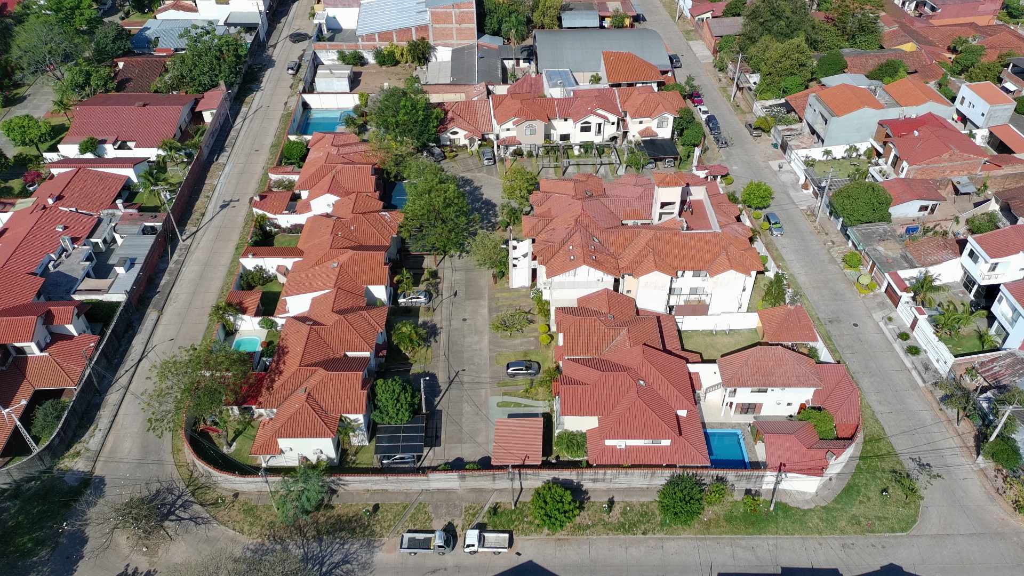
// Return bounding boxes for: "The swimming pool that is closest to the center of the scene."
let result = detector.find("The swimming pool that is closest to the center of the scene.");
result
[388,180,423,209]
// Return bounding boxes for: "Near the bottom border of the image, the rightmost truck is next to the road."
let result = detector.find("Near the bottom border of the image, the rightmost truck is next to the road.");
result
[459,525,515,551]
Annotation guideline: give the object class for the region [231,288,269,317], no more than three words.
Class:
shed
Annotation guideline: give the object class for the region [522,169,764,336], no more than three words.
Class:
building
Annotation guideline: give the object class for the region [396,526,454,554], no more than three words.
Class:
truck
